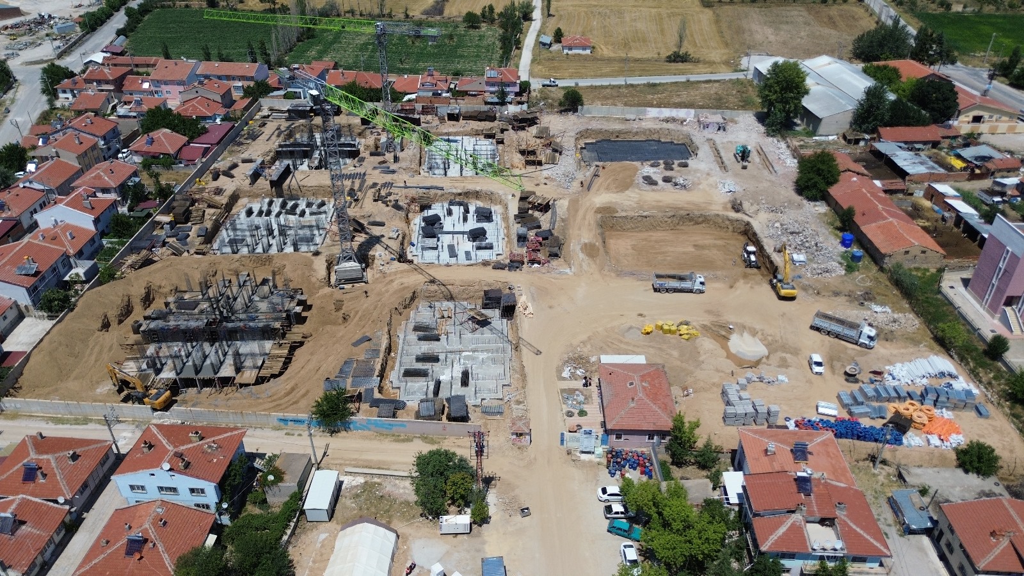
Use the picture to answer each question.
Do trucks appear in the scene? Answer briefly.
Yes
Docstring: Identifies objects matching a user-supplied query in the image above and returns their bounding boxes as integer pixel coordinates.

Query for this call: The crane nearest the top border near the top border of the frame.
[204,11,442,152]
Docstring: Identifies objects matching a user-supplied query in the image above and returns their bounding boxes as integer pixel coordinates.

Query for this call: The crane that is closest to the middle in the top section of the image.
[288,62,530,282]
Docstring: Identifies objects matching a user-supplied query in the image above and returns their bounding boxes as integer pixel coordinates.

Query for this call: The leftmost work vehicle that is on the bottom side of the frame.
[102,359,172,405]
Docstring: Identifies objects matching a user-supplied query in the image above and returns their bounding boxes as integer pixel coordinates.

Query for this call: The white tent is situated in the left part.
[321,486,407,576]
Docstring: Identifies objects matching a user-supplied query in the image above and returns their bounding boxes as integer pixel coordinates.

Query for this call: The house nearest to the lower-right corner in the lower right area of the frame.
[921,478,1024,576]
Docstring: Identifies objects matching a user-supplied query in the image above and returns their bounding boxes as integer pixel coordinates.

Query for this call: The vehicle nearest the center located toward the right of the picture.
[653,269,708,293]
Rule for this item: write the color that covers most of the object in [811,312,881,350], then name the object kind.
gray truck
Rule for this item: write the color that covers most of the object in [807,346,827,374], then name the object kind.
white vehicle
